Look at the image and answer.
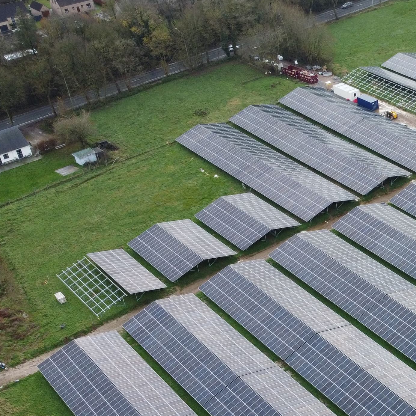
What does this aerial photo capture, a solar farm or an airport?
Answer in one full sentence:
The picture captures a solar farm.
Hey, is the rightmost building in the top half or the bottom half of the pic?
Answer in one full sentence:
The top half of the photo is where the rightmost building is.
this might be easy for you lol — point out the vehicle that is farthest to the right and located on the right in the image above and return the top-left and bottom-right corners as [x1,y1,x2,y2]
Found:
[380,107,401,121]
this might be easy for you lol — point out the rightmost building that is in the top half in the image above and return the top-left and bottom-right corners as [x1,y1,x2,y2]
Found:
[333,81,360,101]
